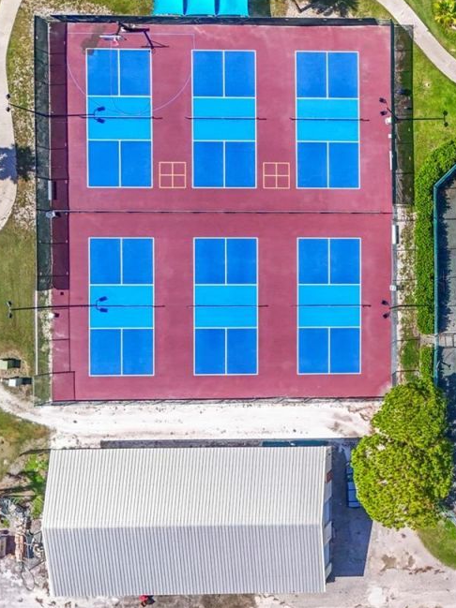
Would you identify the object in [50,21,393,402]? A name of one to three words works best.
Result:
sports court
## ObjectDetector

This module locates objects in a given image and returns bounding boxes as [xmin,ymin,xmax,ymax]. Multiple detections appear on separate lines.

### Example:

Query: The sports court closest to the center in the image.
[192,235,258,376]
